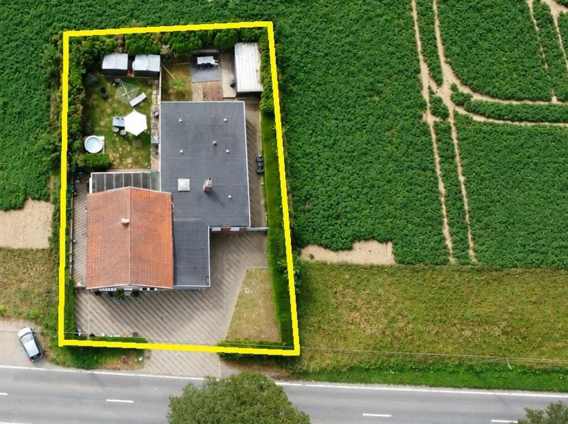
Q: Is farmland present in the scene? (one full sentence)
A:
Yes, farmland can be seen from above here.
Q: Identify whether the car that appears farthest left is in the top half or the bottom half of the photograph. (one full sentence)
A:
The car that appears farthest left is in the bottom half of the image.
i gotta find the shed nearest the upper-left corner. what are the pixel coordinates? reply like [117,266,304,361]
[102,52,128,79]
